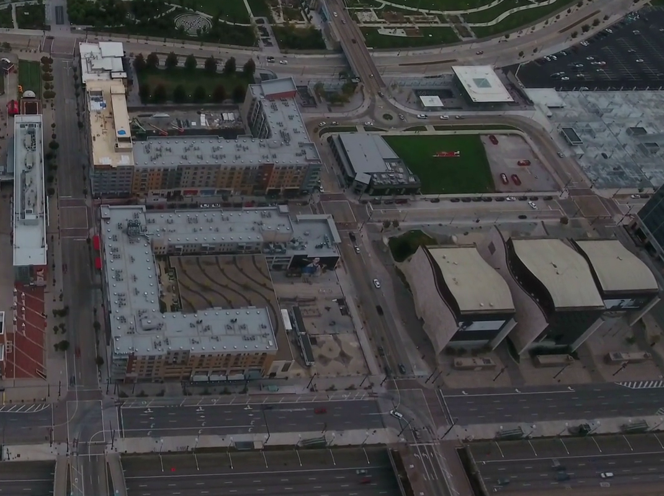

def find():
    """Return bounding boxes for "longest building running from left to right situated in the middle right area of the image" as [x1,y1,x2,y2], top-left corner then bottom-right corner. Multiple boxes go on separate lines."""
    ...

[406,225,658,352]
